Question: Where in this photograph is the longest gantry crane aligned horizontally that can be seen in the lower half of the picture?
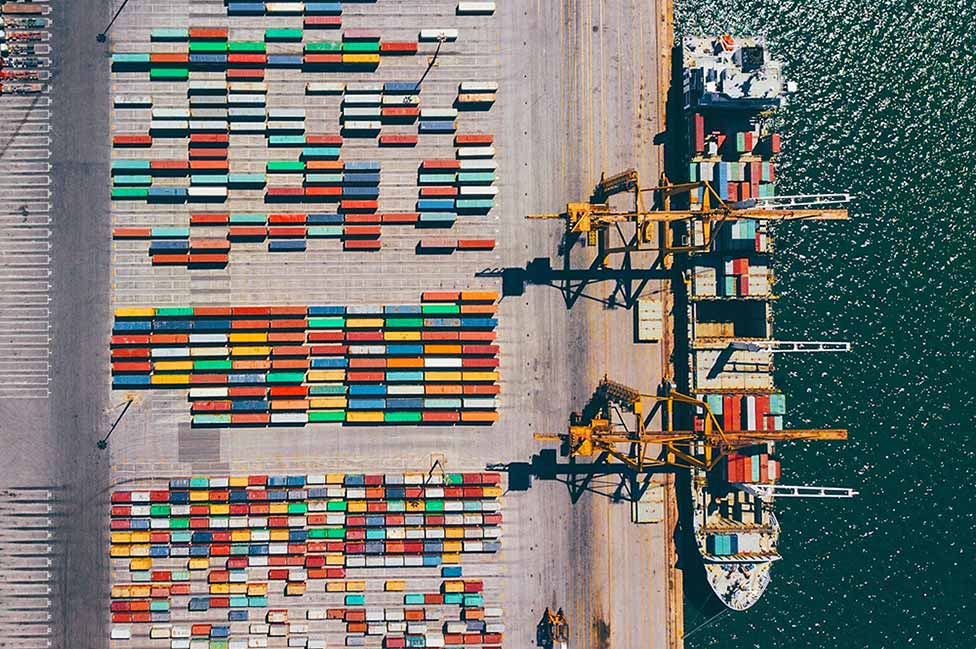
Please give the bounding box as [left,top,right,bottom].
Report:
[532,369,851,475]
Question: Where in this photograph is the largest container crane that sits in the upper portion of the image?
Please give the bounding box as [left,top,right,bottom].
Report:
[532,163,851,272]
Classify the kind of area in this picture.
port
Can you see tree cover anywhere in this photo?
No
